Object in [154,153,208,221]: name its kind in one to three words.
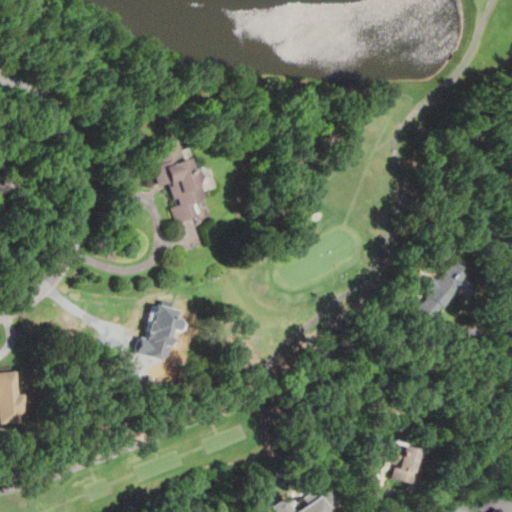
house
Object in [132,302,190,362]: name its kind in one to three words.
house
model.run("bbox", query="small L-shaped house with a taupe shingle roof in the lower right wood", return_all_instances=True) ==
[390,446,422,484]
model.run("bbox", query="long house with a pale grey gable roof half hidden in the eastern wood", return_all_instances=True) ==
[418,265,469,316]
